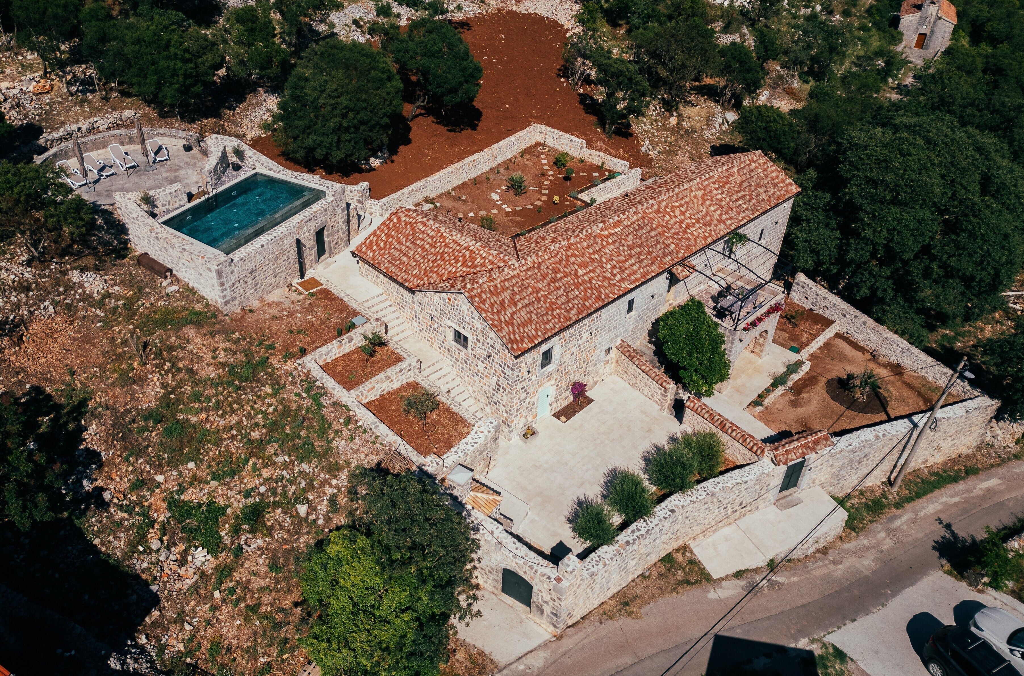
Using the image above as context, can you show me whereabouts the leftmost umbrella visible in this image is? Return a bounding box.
[76,144,95,191]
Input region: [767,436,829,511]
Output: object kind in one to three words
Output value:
building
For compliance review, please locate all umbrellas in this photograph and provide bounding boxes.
[76,144,95,191]
[139,125,156,169]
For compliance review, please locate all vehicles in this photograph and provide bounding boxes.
[933,624,1023,676]
[971,613,1024,676]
